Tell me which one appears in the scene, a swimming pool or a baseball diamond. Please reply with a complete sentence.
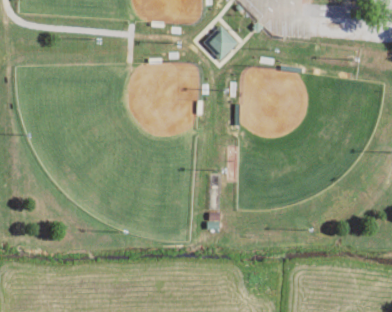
Visible in the photo is a baseball diamond.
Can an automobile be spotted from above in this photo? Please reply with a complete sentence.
No, I find no automobile anywhere in the image.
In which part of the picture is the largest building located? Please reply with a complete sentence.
You can find the largest building in the top area of the picture.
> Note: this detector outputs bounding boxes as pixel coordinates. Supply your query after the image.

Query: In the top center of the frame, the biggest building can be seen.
[204,26,237,60]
